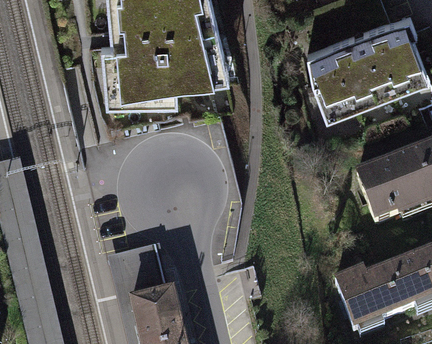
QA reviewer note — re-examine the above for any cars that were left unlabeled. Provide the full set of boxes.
[102,225,125,237]
[95,202,118,215]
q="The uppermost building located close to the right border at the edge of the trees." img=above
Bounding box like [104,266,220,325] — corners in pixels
[307,17,431,131]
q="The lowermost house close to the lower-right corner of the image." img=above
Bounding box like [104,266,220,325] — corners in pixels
[335,242,432,340]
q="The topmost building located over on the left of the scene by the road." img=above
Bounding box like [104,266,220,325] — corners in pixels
[102,0,237,115]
